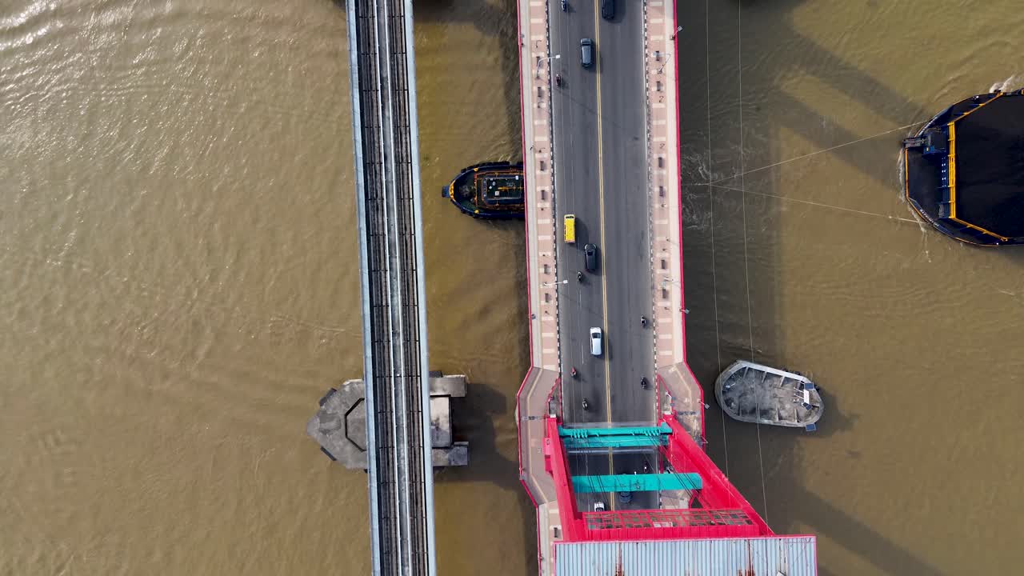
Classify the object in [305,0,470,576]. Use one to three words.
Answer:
bridge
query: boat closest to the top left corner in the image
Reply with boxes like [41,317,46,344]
[442,159,526,221]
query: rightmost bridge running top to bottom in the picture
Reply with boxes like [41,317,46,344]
[515,0,817,576]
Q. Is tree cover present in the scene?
No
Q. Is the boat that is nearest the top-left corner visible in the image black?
Yes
